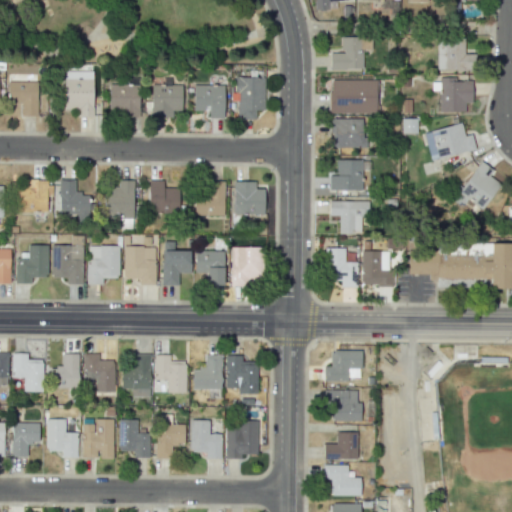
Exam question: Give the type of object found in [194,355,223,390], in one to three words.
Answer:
house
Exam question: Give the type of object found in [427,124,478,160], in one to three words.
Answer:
house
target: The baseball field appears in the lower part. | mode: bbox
[459,385,512,482]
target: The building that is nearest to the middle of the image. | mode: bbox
[232,248,264,288]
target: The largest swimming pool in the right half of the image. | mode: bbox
[464,6,482,18]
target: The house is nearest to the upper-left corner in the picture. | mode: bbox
[10,82,39,117]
